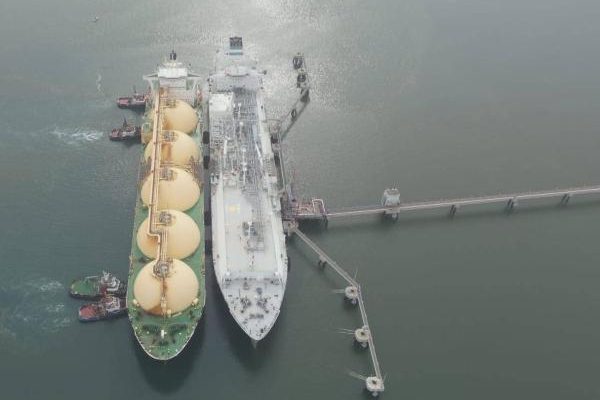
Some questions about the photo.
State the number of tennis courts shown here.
0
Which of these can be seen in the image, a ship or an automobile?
ship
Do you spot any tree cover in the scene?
No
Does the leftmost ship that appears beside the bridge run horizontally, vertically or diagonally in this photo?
vertically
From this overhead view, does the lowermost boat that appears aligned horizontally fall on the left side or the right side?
left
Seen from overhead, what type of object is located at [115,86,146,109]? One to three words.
boat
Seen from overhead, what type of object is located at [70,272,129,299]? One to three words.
boat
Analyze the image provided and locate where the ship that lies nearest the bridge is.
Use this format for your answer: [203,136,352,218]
[206,33,287,346]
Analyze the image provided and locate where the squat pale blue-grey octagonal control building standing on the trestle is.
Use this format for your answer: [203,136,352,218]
[380,183,403,222]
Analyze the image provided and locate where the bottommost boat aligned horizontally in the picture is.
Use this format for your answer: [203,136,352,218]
[79,294,128,320]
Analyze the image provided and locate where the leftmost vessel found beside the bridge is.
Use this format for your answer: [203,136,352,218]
[128,51,206,360]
